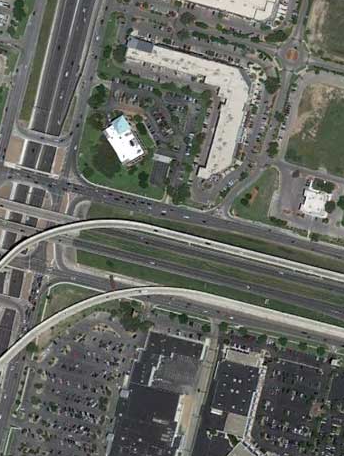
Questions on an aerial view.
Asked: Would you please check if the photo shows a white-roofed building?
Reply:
Yes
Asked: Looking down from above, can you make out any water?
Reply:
No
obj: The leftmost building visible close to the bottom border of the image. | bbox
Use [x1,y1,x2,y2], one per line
[106,331,205,456]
